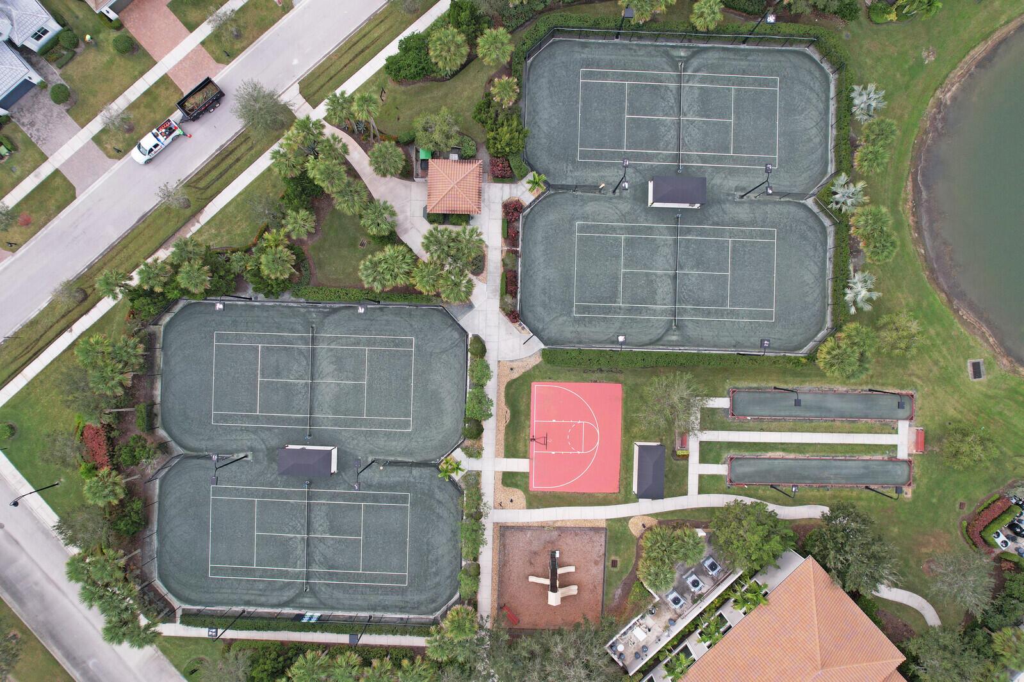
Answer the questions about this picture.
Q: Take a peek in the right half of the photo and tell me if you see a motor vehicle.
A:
No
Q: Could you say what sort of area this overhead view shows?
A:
sports ground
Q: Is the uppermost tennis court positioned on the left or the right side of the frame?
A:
right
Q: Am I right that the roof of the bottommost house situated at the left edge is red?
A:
No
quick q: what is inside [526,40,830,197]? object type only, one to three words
tennis court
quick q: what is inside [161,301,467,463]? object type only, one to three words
tennis court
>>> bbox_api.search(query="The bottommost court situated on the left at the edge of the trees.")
[158,455,461,615]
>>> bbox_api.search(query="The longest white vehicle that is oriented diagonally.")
[128,118,178,164]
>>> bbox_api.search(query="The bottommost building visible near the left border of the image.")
[0,41,43,115]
